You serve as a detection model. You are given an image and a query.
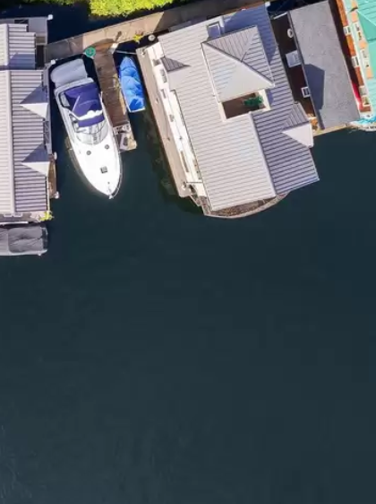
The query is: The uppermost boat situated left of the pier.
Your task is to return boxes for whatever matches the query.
[51,56,89,84]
